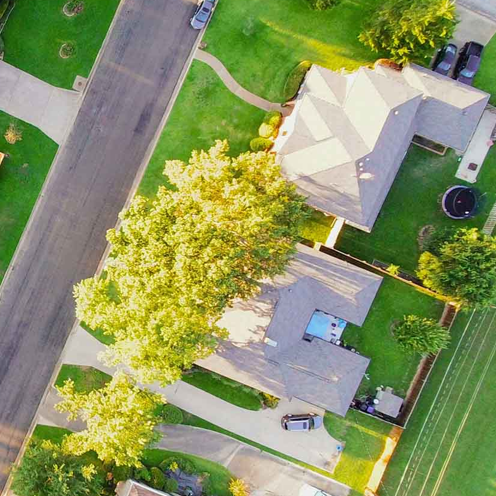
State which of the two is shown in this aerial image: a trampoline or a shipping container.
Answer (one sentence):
It is a trampoline that can be seen here.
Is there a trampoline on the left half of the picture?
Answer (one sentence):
No, no trampoline can be made out on the left half of the picture.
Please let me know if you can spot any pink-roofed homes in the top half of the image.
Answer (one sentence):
No, I can find no pink-roofed home in the top half of the image.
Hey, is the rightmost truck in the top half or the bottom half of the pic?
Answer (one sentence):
Seen from above, the rightmost truck lies in the top half of the view.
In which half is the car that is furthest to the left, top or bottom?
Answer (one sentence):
Seen from above, the car that is furthest to the left lies in the top half of the view.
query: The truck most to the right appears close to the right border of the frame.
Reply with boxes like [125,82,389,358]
[448,36,484,83]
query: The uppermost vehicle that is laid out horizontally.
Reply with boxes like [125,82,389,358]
[281,413,324,433]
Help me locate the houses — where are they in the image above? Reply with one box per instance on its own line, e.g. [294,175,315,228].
[195,232,383,417]
[118,477,168,496]
[271,63,490,233]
